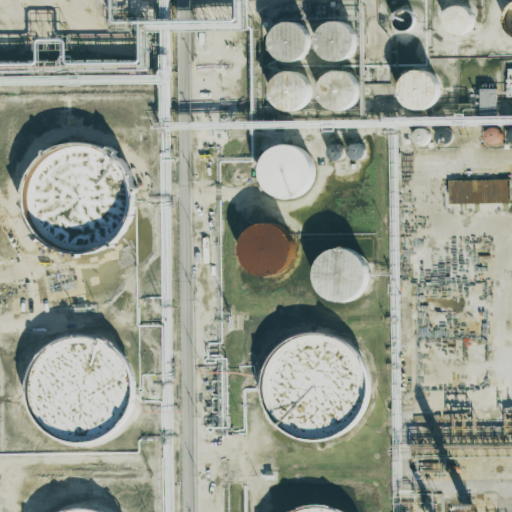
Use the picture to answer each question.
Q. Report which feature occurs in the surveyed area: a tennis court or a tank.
tank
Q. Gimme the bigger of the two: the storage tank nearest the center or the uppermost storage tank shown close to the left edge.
the uppermost storage tank shown close to the left edge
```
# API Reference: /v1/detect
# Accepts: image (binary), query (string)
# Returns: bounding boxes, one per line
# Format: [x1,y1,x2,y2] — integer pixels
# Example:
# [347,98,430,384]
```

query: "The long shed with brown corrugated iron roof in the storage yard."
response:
[448,180,510,204]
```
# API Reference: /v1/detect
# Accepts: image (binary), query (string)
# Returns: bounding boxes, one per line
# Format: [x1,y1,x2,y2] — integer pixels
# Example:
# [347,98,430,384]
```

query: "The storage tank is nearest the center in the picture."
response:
[237,222,296,278]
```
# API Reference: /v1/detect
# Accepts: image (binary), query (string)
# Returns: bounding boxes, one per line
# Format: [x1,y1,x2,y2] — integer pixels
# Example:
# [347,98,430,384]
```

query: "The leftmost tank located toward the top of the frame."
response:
[22,143,134,254]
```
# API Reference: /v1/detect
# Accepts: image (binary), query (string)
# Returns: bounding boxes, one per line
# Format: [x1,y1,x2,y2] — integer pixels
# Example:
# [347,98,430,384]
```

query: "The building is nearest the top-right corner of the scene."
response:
[480,86,498,109]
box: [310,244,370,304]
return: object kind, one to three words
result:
storage tank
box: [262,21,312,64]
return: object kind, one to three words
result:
storage tank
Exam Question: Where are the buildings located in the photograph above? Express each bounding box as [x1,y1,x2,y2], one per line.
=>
[480,86,498,109]
[448,180,510,204]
